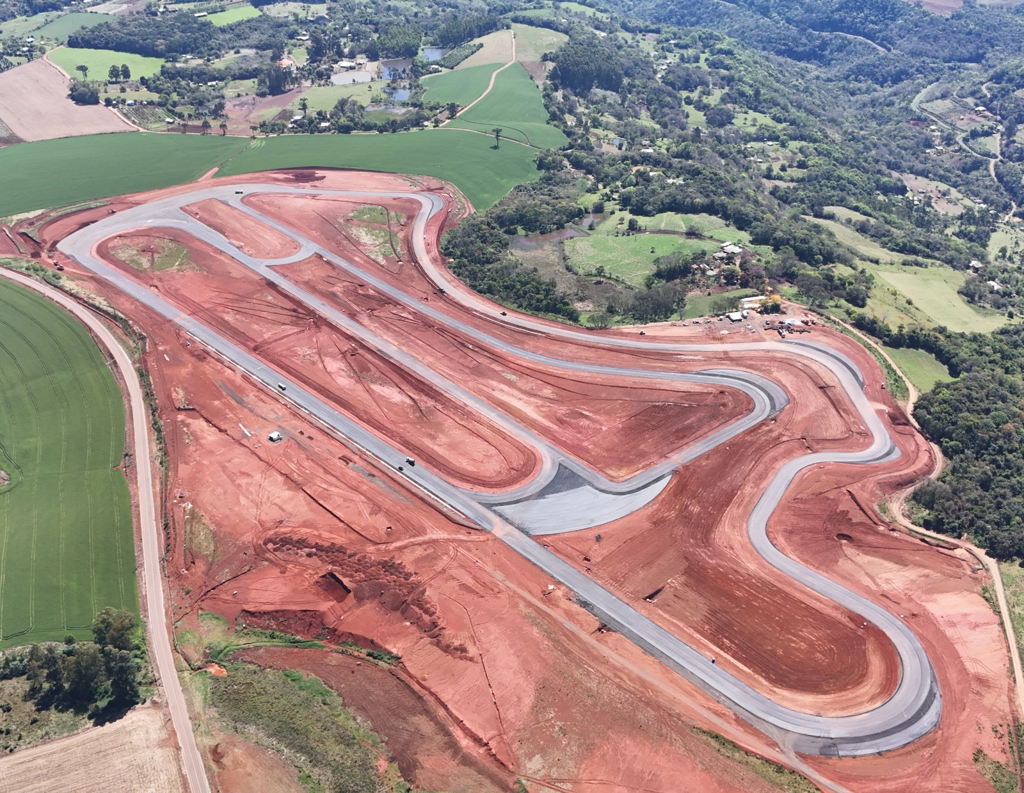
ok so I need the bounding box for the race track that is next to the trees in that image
[56,183,942,757]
